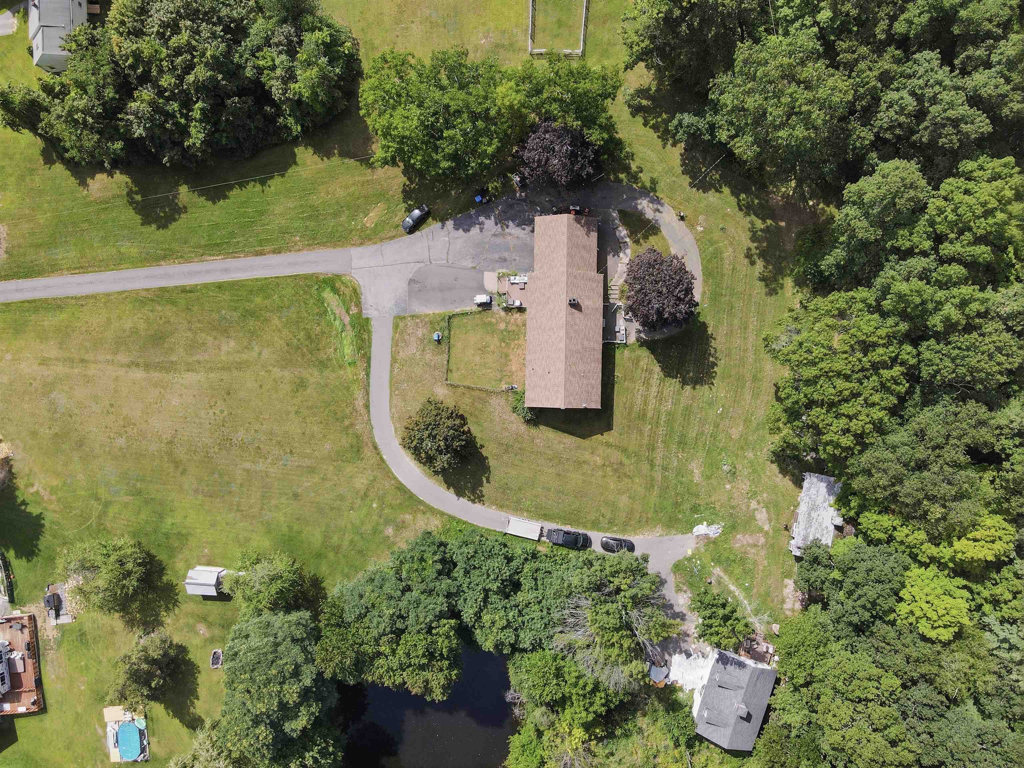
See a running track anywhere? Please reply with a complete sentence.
No, the photo shows no running track.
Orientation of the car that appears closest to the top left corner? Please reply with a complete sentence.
The car that appears closest to the top left corner is laid out on a diagonal.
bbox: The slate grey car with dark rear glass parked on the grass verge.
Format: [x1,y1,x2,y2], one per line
[399,201,430,235]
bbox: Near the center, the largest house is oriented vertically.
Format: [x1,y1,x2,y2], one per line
[524,214,605,410]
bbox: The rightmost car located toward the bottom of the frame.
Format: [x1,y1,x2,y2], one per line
[599,534,636,555]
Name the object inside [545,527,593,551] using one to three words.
truck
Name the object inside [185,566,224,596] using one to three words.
shed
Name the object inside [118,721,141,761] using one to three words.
swimming pool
